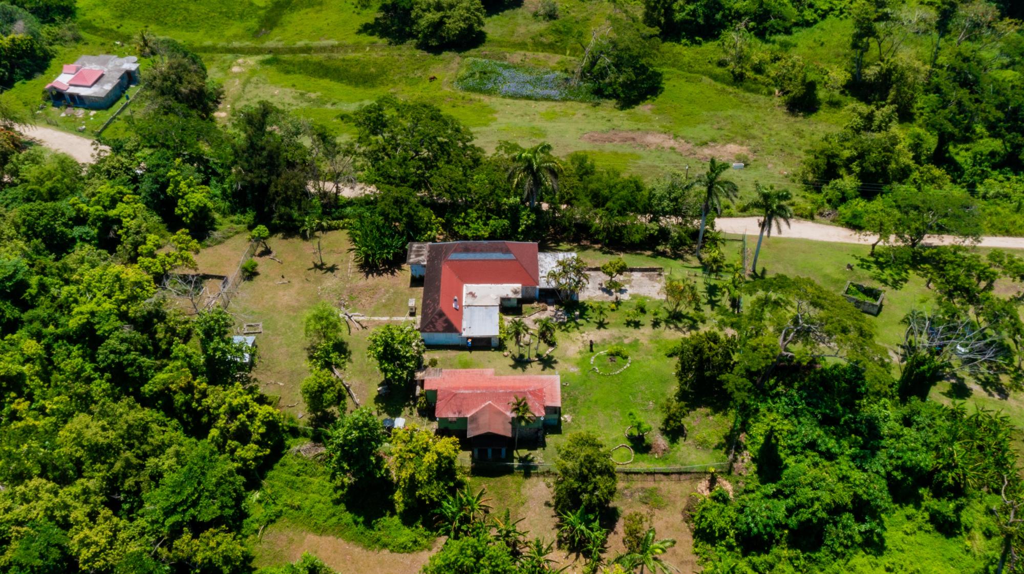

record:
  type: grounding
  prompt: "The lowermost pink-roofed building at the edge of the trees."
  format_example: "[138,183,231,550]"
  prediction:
[416,367,562,460]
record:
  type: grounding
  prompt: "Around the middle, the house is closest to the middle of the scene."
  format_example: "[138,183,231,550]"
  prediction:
[407,240,577,353]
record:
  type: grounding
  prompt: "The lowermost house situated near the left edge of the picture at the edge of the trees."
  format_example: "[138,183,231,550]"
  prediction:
[45,55,143,113]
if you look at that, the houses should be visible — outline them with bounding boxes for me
[45,55,143,113]
[416,367,562,460]
[407,240,577,353]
